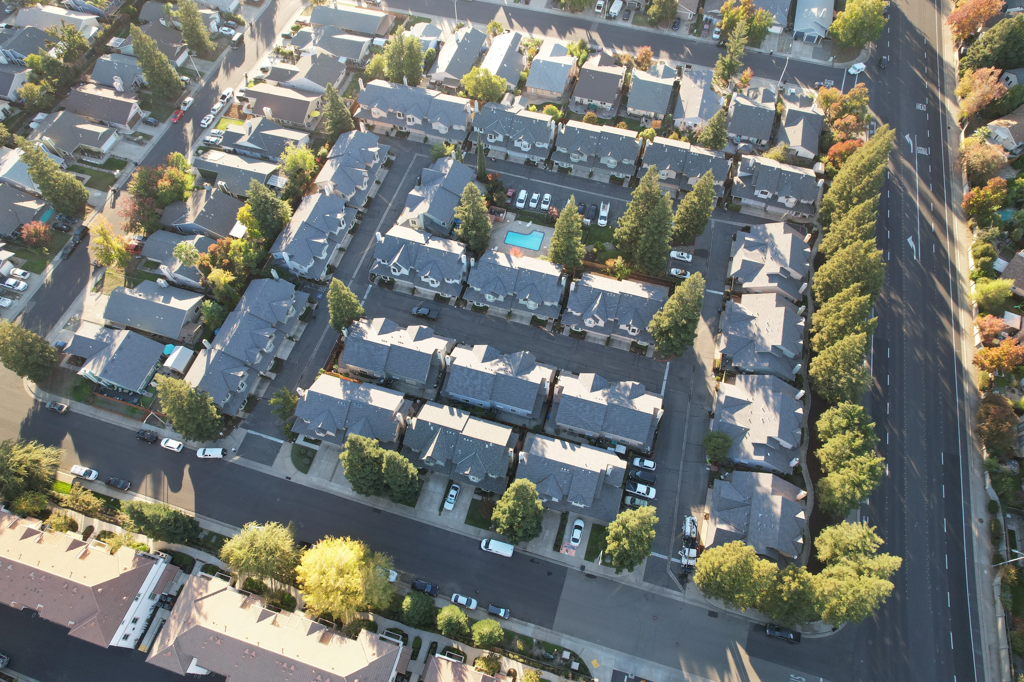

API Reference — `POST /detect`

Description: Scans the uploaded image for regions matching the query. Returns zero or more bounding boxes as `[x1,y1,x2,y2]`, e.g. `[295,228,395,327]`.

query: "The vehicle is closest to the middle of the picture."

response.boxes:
[411,307,439,321]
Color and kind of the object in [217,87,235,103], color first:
white vehicle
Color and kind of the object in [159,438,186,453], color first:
white car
